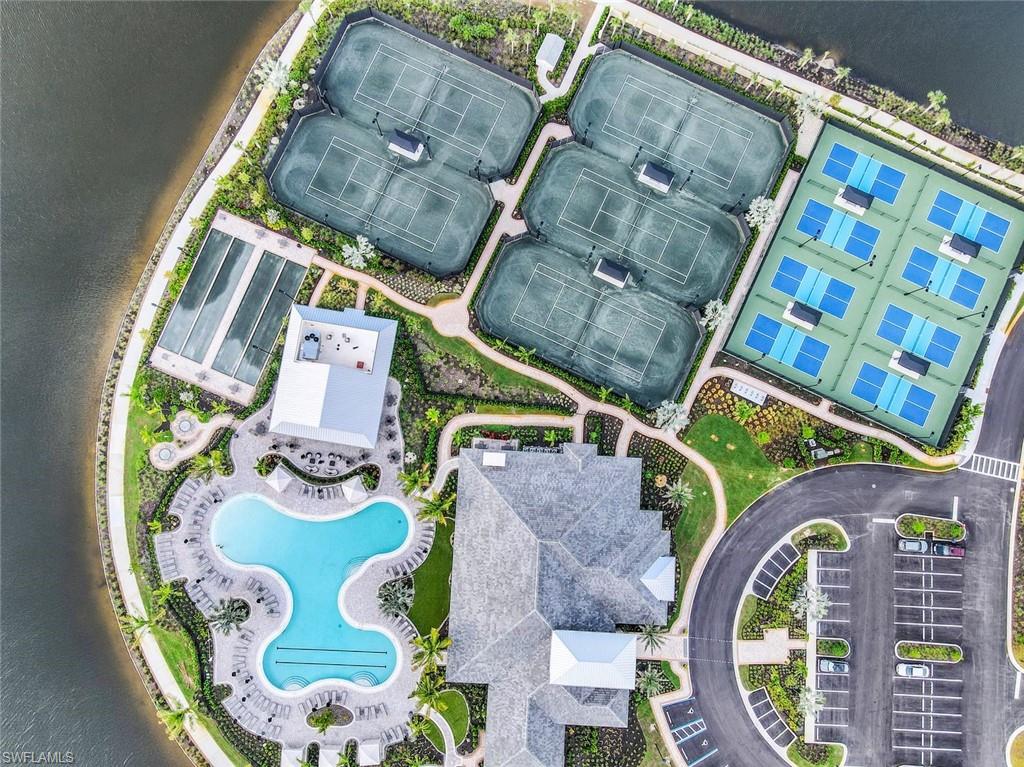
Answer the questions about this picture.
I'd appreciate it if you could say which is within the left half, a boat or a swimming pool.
swimming pool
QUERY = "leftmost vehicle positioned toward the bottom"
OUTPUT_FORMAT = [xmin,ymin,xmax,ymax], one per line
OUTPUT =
[821,660,850,675]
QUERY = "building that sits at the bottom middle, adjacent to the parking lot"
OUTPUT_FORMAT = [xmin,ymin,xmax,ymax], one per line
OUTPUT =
[445,443,677,767]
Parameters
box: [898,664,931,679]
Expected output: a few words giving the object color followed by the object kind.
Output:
white car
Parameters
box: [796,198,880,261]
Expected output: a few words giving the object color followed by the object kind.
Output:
blue sports court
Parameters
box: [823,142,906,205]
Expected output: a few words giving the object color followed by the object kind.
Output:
blue sports court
